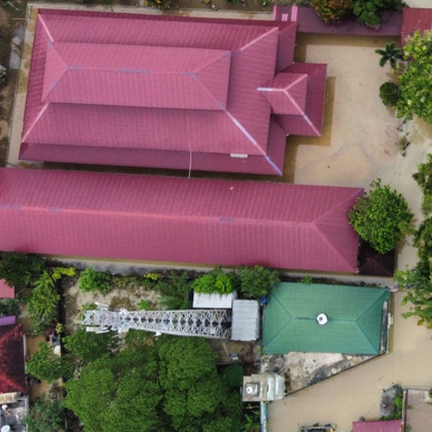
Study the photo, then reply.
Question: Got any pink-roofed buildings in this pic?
Yes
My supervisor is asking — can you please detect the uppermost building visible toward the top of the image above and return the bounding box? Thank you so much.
[19,8,327,177]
